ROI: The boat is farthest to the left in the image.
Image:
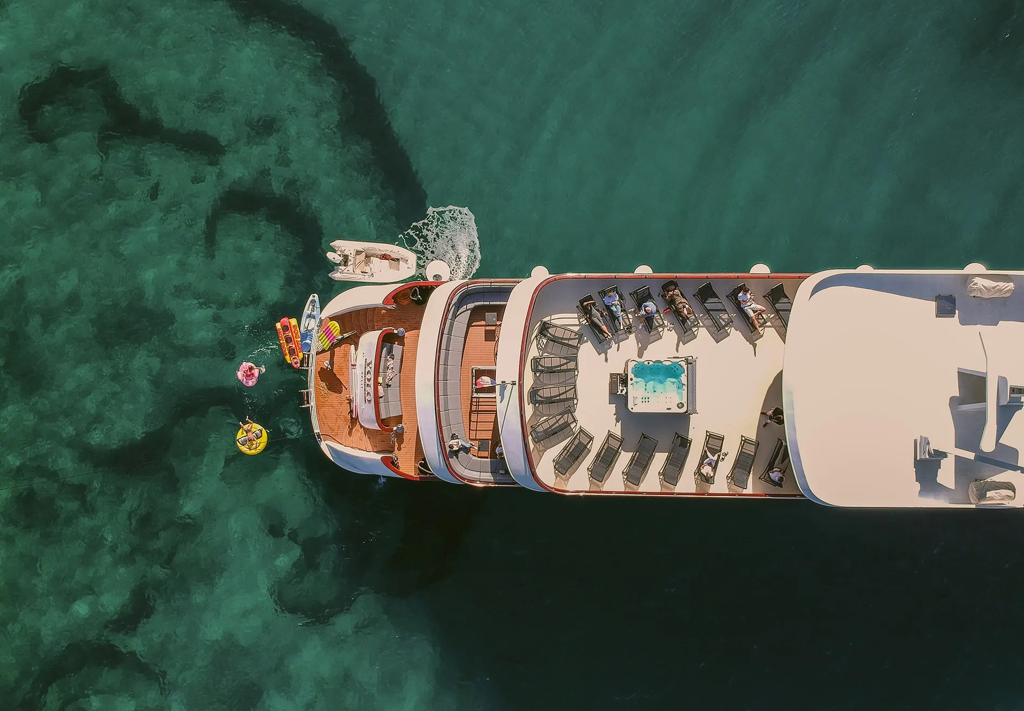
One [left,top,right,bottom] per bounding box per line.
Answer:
[299,294,319,352]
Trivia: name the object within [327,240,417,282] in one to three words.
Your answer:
boat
